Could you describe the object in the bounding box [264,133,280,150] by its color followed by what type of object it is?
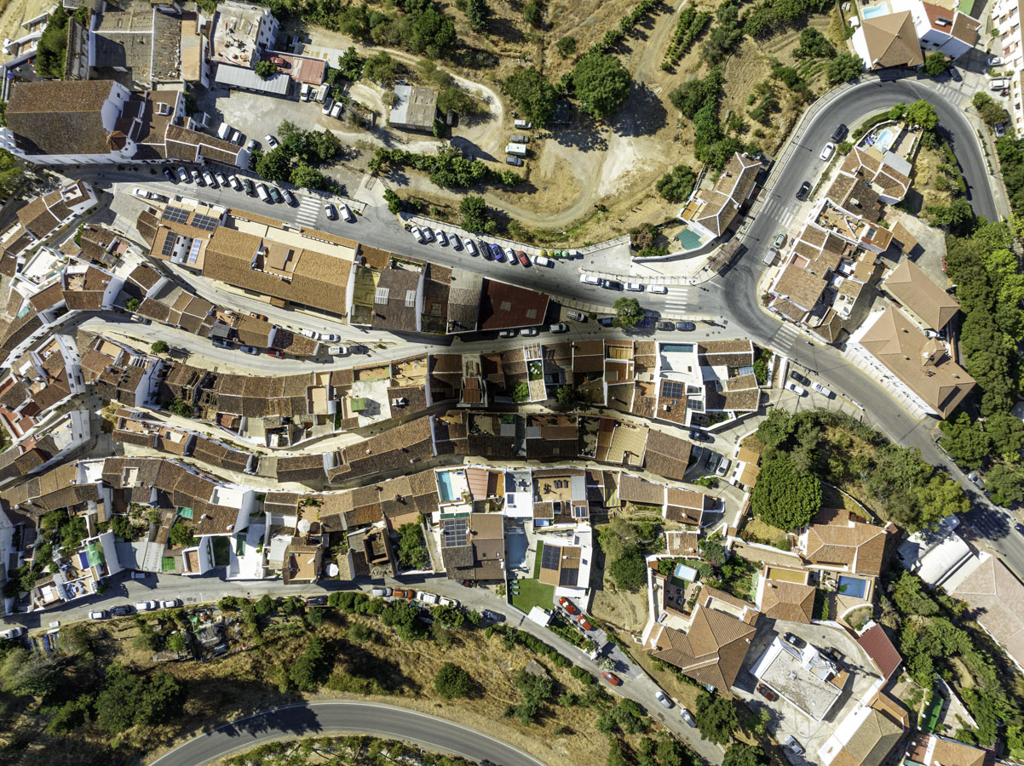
white car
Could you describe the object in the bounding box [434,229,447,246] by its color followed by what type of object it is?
white vehicle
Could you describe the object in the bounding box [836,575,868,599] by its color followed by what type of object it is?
blue swimming pool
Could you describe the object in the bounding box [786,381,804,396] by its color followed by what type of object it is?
white car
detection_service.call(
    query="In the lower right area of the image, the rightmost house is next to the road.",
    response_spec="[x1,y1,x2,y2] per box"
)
[943,551,1024,673]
